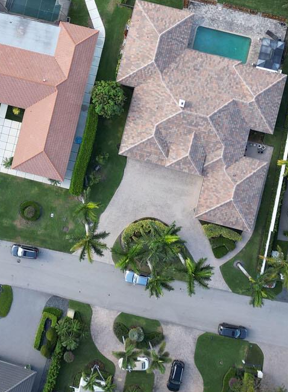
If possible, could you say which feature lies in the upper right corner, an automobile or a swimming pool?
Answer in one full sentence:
Looking in the upper right corner, you will find a swimming pool.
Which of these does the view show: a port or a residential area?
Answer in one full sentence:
What you see here is a residential area.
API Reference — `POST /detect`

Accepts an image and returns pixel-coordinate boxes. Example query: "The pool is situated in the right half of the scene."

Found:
[190,23,254,64]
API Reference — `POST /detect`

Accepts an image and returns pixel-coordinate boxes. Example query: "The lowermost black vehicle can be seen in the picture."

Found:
[166,358,186,392]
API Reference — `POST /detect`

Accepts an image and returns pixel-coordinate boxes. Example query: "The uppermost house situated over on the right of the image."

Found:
[117,0,287,233]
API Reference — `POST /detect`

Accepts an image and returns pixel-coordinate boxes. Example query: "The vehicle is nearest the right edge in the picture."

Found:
[217,322,247,341]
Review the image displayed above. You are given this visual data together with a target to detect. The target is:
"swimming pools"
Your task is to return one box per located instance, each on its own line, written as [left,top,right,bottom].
[4,0,63,23]
[190,23,254,64]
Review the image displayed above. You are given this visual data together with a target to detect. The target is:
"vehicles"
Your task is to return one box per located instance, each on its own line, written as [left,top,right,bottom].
[10,243,39,260]
[117,355,149,371]
[166,358,186,392]
[121,270,154,288]
[217,322,247,341]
